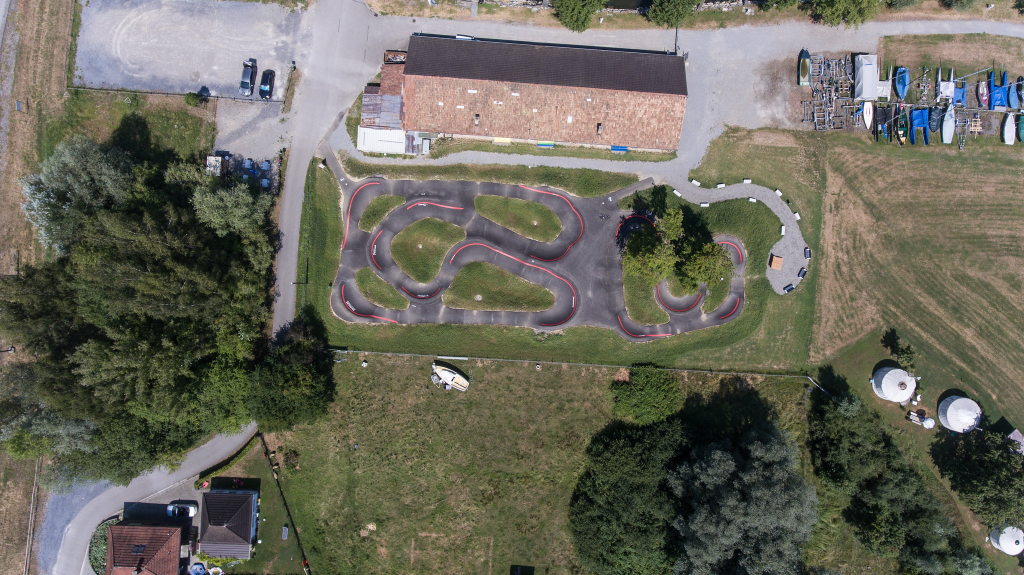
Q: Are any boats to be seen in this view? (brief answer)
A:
Yes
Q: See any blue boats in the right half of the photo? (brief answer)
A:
Yes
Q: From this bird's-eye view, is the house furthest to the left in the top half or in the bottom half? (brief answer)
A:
bottom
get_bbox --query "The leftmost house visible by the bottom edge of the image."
[106,518,193,575]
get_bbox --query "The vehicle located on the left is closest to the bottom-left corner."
[168,502,199,518]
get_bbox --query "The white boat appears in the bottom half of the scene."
[432,364,470,394]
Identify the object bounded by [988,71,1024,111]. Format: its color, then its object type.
blue boat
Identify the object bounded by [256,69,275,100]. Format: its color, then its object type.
black car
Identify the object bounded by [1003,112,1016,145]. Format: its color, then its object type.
white boat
